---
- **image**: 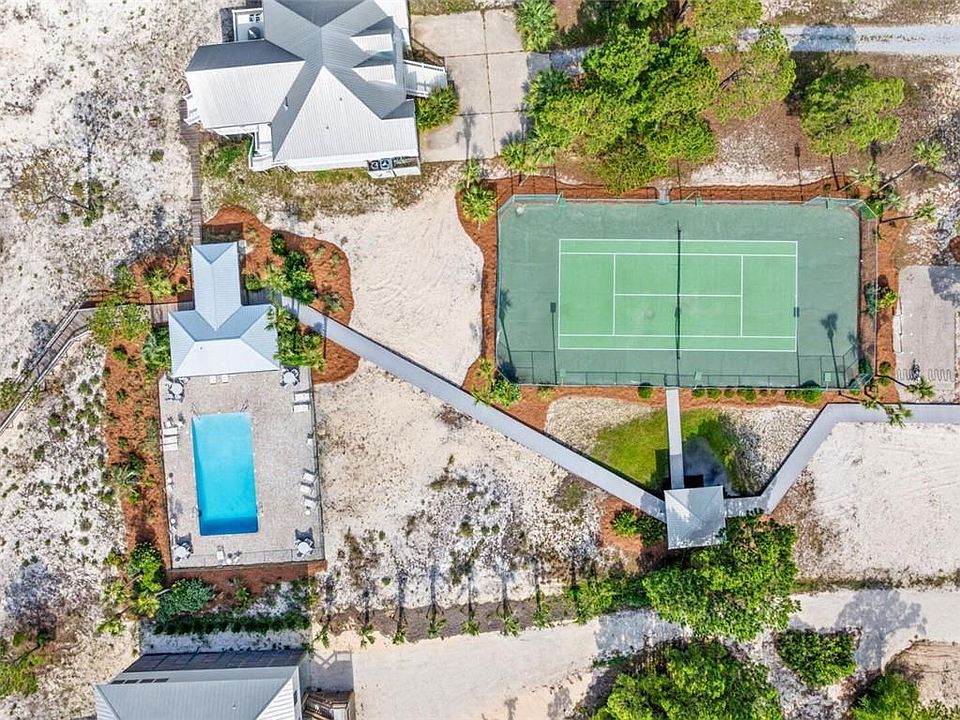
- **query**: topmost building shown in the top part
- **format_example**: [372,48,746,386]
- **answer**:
[180,0,442,174]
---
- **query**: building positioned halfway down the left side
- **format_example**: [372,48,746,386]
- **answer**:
[168,242,283,377]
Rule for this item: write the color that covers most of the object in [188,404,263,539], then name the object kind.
blue swimming pool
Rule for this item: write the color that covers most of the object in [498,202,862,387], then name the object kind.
green tennis court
